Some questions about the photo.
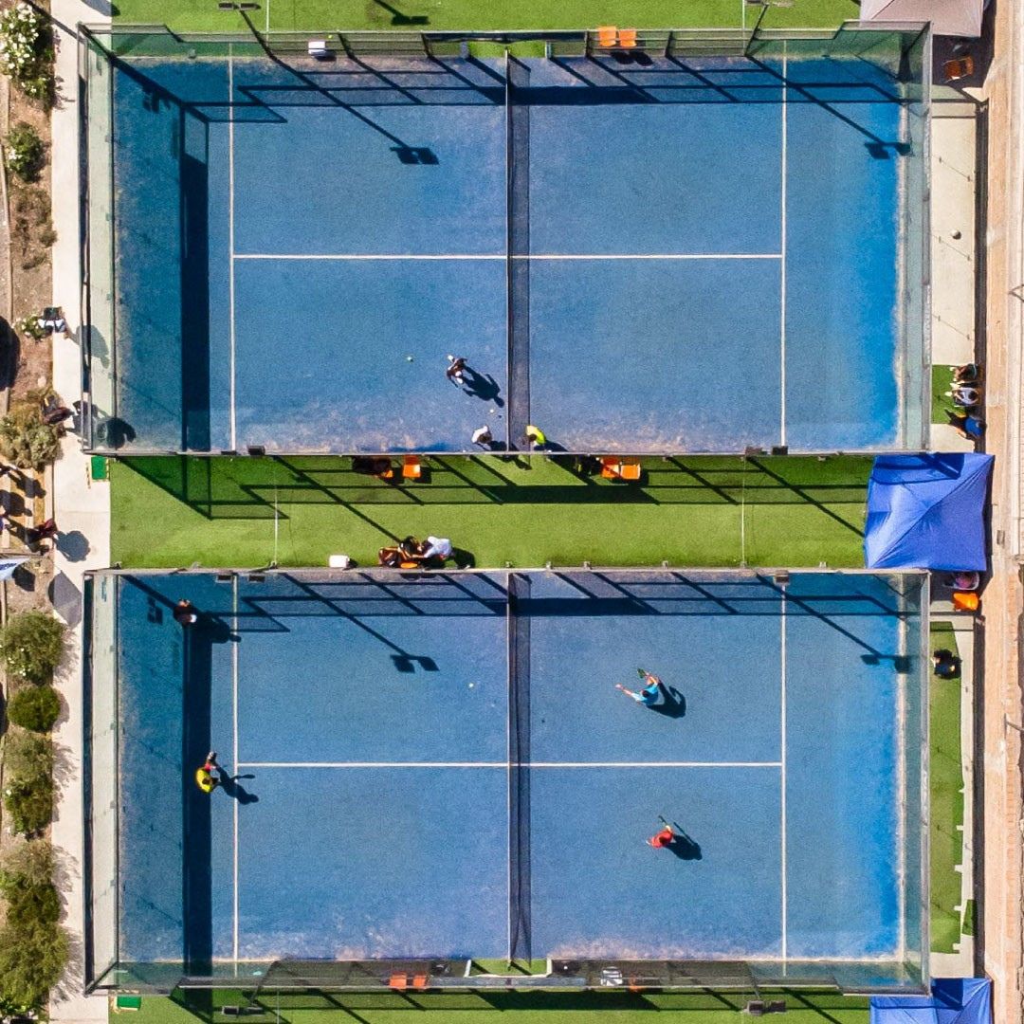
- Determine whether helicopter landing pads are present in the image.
No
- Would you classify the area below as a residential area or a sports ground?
sports ground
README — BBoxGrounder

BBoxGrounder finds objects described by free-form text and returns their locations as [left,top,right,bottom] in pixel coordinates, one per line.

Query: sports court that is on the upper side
[112,56,904,452]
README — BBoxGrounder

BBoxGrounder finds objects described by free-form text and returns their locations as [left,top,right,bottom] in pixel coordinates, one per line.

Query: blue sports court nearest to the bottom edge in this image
[115,567,905,962]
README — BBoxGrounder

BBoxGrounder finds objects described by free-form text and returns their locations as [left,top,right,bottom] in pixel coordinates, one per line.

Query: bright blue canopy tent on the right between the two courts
[856,454,994,571]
